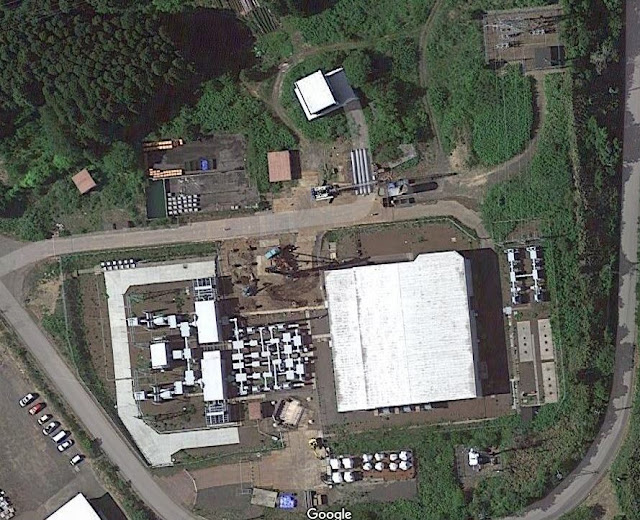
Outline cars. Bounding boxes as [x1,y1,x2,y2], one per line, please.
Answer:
[39,412,51,422]
[31,402,44,414]
[21,392,36,406]
[59,438,74,451]
[43,420,58,433]
[54,429,68,442]
[71,452,84,464]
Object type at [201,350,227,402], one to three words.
building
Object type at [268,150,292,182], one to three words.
shed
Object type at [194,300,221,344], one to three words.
building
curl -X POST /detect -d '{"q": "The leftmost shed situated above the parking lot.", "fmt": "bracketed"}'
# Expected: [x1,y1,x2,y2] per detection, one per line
[72,169,97,194]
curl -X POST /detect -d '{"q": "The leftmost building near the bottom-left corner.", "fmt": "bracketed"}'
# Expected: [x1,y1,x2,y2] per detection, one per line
[42,492,104,520]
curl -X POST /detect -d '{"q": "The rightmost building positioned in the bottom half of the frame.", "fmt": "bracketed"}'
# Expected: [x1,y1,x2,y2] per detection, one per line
[321,250,481,413]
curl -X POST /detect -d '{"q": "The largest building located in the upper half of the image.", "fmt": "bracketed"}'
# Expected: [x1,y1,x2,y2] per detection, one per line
[294,67,358,121]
